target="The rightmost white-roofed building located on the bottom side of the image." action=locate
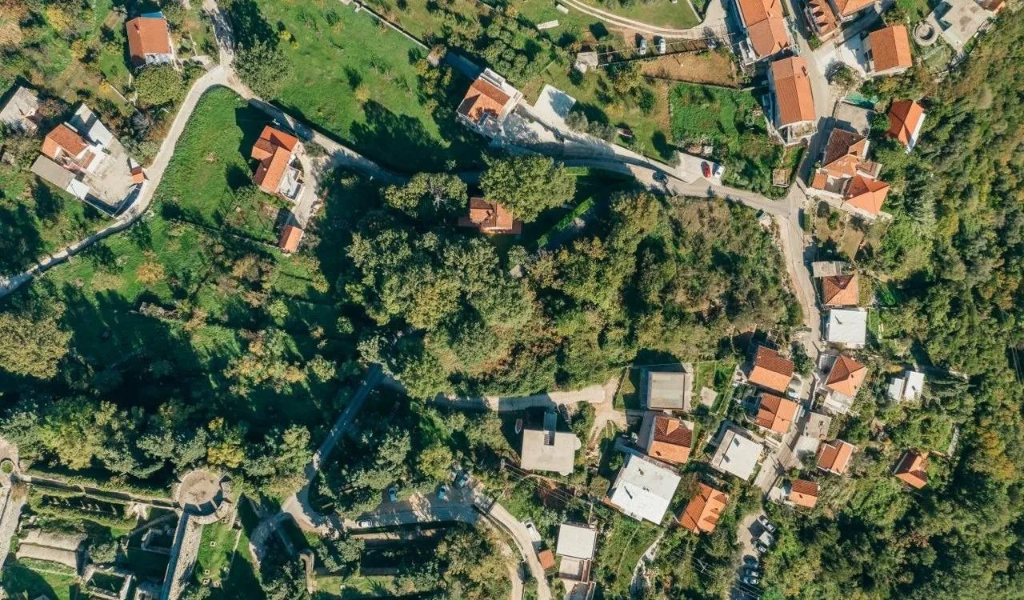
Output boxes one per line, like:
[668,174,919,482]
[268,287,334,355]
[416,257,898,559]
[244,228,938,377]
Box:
[882,370,925,402]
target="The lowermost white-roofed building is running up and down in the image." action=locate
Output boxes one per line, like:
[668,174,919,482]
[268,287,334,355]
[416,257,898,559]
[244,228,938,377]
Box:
[557,520,595,600]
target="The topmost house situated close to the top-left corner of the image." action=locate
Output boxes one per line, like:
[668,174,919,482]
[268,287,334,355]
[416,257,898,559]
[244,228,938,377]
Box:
[126,10,178,69]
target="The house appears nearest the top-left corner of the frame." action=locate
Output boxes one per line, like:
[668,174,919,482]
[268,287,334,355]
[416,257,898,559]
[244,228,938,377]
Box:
[0,86,51,132]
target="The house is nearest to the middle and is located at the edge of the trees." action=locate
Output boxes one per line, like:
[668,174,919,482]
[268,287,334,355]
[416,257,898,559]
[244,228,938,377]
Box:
[458,197,522,235]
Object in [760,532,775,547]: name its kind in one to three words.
vehicle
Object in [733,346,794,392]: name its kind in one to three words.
house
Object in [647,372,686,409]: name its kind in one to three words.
building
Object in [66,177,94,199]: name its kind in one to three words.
shed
